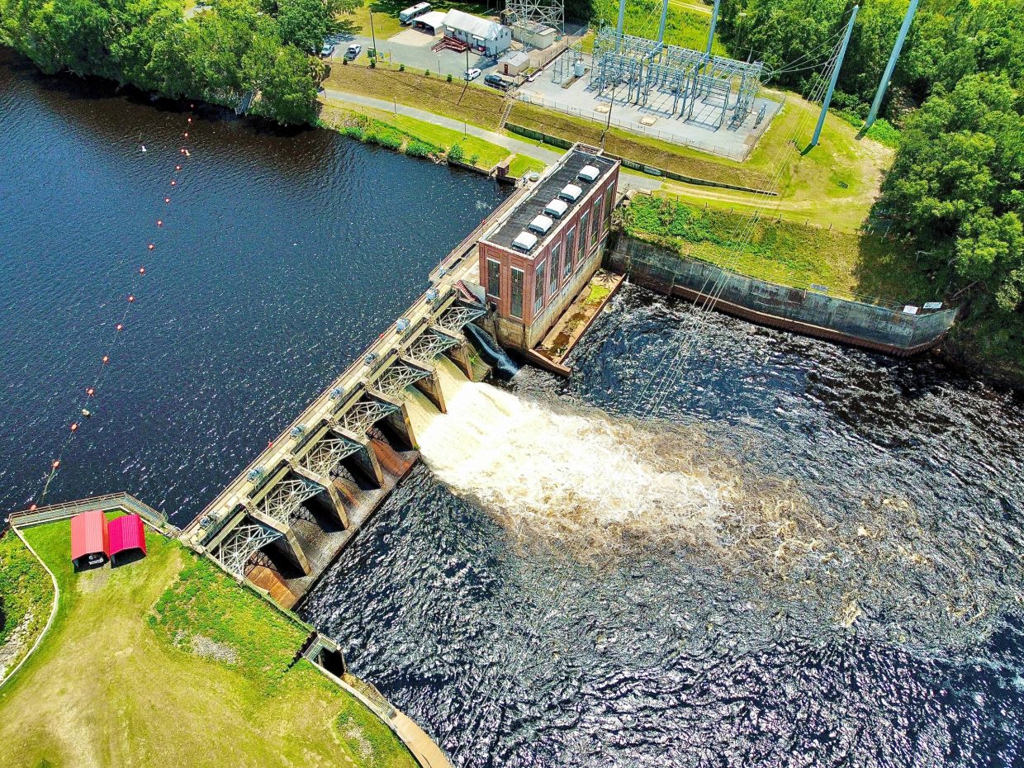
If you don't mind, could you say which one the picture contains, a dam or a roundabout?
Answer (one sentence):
The one in the frame is a dam.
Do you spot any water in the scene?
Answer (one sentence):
Yes, there's water in this view.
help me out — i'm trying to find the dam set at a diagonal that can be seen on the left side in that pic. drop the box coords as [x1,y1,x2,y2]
[175,281,501,613]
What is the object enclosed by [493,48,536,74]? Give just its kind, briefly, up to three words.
shed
